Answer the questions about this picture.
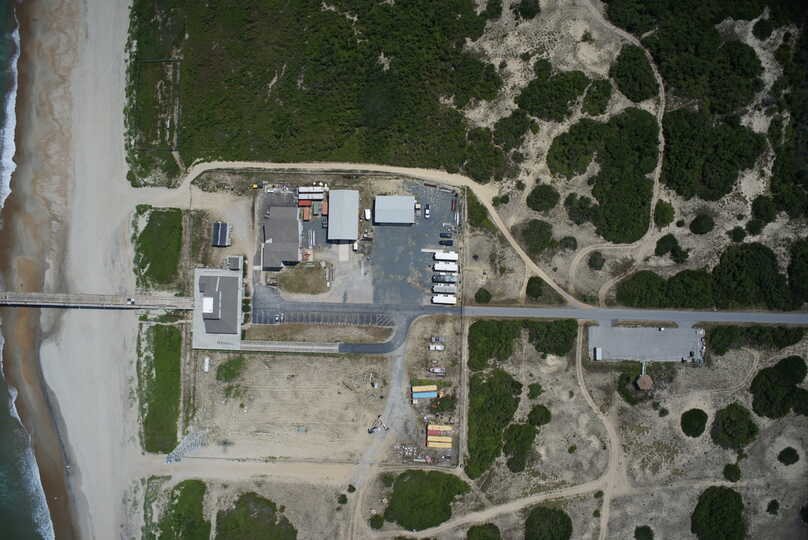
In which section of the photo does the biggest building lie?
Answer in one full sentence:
The biggest building is in the left part of the image.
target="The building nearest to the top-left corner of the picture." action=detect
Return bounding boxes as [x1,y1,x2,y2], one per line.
[212,221,234,246]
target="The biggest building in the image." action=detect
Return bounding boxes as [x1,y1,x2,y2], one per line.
[192,268,246,350]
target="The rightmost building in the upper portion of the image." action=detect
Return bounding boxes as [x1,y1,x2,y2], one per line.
[375,196,415,223]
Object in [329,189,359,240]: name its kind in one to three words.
building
